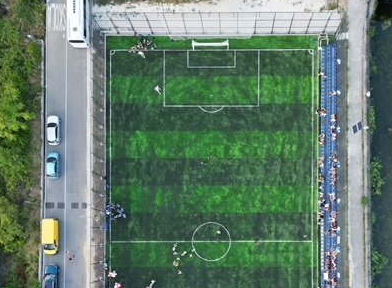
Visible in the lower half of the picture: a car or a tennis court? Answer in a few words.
car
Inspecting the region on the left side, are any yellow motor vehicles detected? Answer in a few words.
Yes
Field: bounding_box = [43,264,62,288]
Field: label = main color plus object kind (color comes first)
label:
blue car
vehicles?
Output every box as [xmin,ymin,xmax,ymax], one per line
[44,116,62,146]
[43,264,62,288]
[66,0,91,49]
[46,152,62,179]
[42,219,60,254]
